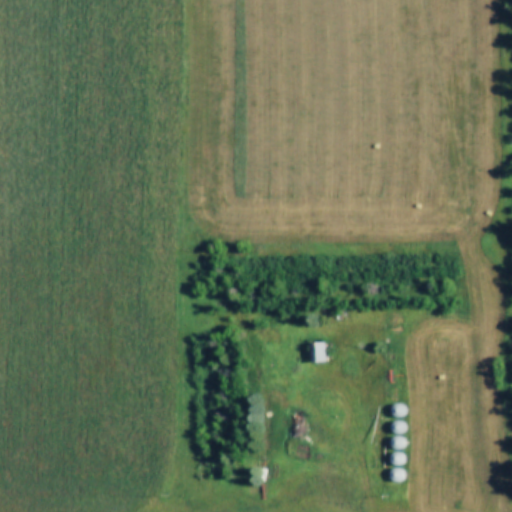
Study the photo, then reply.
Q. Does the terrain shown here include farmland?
Yes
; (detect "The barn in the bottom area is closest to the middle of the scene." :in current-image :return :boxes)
[312,342,328,363]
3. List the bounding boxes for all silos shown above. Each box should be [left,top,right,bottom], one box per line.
[391,402,408,418]
[392,420,408,435]
[390,452,406,467]
[391,436,408,451]
[390,468,406,484]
